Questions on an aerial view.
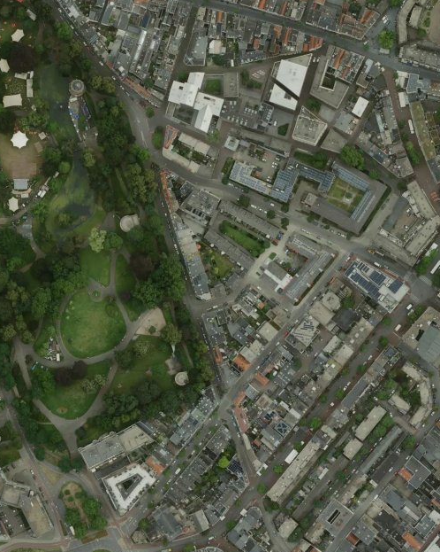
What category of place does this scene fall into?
residential area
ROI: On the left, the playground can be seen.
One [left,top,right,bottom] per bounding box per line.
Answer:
[136,309,166,336]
